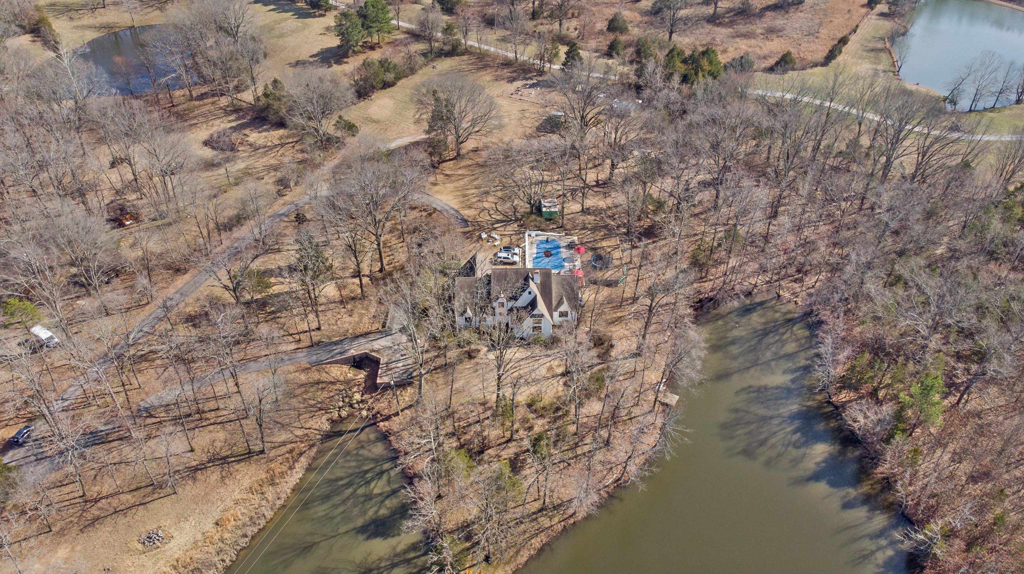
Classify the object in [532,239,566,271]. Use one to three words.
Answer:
swimming pool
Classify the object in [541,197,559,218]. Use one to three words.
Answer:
shed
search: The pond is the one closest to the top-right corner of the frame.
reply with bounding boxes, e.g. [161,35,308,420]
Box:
[893,0,1024,111]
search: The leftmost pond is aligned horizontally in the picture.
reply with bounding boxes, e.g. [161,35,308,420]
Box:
[58,24,208,99]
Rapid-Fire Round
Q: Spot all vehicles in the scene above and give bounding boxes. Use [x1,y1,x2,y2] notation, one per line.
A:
[27,325,58,348]
[498,244,520,255]
[498,253,519,264]
[4,422,37,448]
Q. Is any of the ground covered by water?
Yes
